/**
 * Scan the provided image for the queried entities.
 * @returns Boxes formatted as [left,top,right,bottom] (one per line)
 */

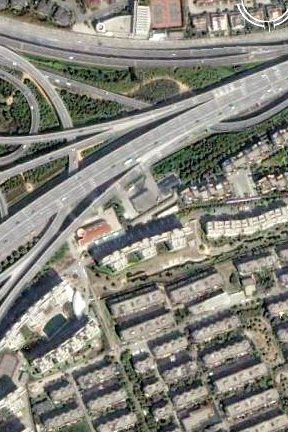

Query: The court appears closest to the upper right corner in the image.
[166,0,183,27]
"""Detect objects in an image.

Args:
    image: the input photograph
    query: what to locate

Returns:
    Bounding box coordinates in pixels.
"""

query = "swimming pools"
[42,314,68,340]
